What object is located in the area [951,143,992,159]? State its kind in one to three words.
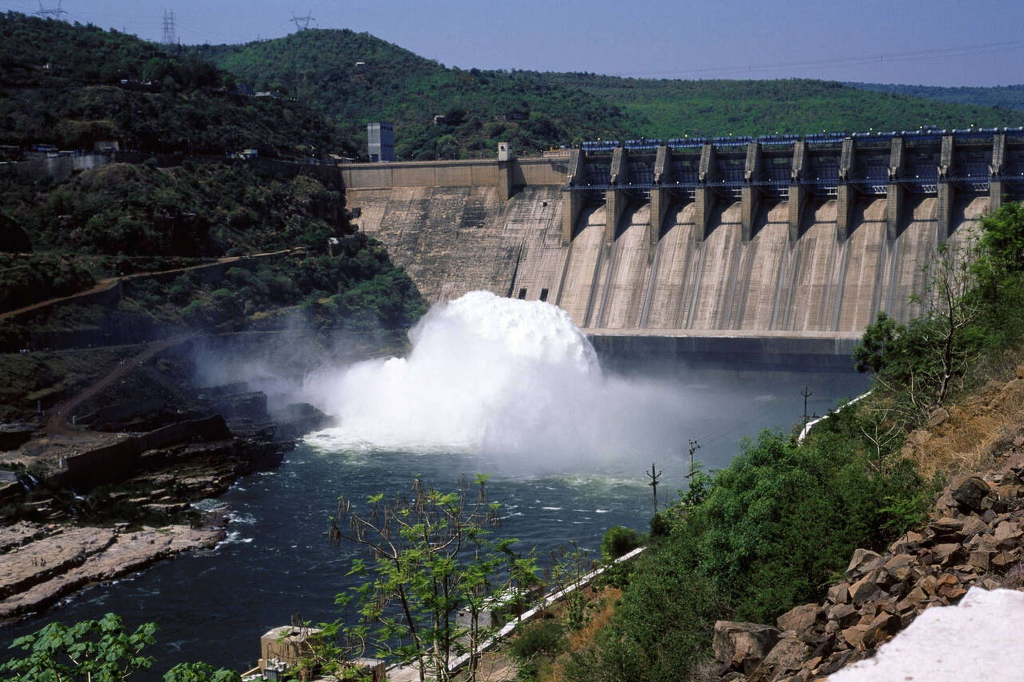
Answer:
bridge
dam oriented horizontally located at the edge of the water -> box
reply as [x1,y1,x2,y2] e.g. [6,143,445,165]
[334,124,1024,363]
